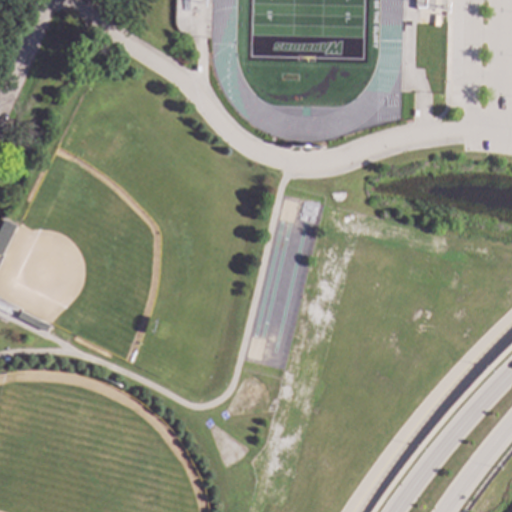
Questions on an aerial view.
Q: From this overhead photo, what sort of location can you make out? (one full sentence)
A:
The area seen from above is a sports ground.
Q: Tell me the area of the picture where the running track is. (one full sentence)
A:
The running track is in the top part of the image.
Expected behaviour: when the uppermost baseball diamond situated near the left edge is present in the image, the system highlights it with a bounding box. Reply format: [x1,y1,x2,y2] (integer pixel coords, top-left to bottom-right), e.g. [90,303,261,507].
[0,148,162,362]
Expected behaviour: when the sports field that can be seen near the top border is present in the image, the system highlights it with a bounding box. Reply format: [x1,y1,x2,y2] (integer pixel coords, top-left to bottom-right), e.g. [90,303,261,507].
[237,0,380,106]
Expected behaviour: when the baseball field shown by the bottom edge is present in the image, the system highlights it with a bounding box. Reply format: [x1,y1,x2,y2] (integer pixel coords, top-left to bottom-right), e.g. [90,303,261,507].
[0,369,205,512]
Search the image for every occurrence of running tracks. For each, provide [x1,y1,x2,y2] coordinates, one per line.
[211,0,402,142]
